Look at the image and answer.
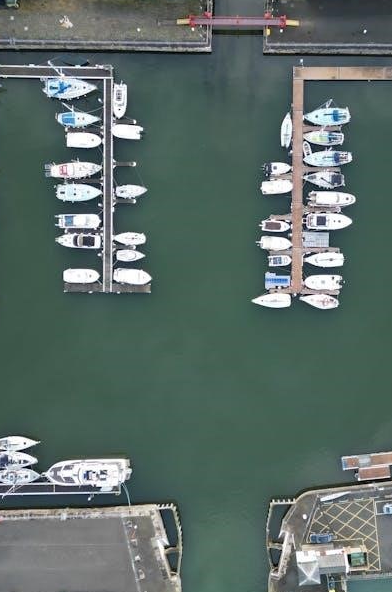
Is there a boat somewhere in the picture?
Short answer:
Yes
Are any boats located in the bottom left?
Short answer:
Yes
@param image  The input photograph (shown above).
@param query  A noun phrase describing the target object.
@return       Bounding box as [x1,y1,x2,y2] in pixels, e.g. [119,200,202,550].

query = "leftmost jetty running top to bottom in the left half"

[63,78,151,296]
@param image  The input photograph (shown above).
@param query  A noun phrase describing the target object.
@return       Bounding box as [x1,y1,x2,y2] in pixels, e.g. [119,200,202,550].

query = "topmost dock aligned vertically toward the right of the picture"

[268,80,340,296]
